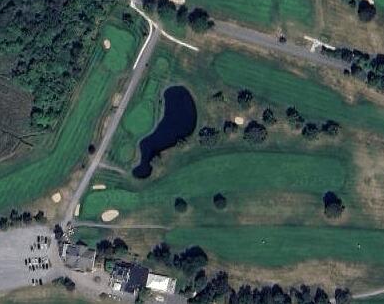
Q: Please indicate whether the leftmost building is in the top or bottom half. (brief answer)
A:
bottom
